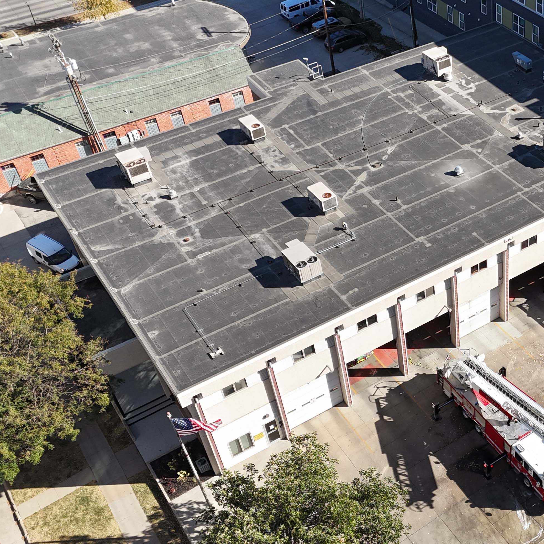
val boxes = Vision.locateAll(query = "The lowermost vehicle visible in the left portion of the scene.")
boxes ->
[21,235,82,279]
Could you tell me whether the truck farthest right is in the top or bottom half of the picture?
bottom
